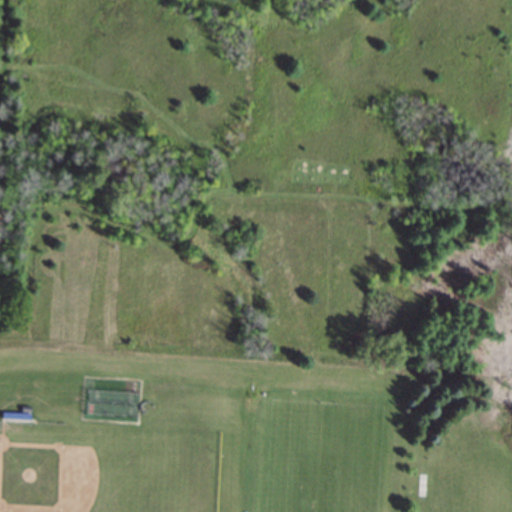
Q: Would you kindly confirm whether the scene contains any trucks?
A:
No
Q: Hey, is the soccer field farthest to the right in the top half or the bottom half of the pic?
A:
bottom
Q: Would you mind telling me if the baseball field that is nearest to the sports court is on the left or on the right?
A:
left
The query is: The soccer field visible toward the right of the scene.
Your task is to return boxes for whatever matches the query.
[260,400,388,512]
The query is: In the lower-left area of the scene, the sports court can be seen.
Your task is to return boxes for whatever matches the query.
[82,378,142,426]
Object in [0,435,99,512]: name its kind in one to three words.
baseball field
